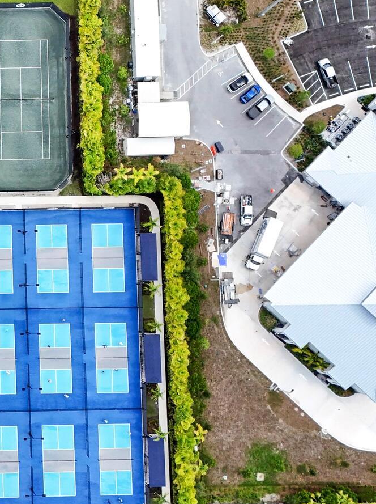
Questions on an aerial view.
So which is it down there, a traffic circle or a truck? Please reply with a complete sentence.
Visible in the photo is a truck.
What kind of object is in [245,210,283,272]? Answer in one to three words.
truck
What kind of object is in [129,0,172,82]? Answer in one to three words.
trailer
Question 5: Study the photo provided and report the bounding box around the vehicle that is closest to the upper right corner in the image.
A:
[317,59,337,90]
